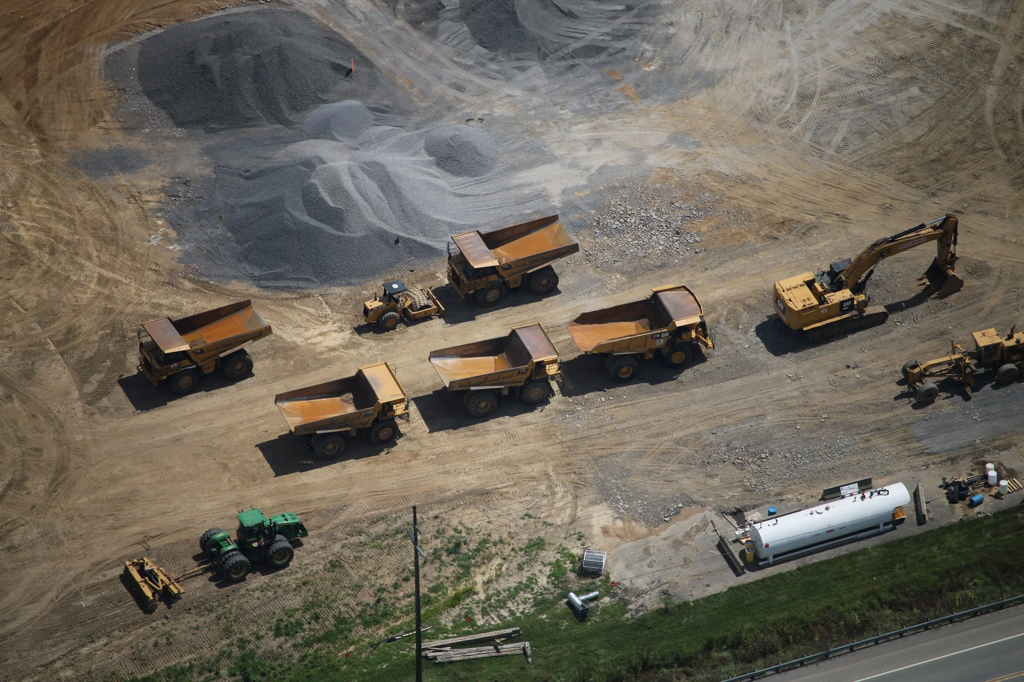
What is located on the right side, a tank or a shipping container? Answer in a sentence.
There is a tank on the right side.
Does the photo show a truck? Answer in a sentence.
Yes, a truck can be made out from above.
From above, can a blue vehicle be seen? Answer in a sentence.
No, this view has no blue vehicle in it.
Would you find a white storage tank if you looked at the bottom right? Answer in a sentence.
Yes, the scene does show a white storage tank at the bottom right.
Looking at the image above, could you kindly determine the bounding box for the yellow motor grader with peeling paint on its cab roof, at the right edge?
[902,322,1024,403]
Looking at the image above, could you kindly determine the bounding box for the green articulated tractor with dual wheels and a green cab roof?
[199,506,308,585]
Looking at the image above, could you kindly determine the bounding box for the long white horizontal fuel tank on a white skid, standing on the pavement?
[732,483,914,565]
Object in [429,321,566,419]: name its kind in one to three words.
truck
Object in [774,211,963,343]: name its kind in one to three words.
work vehicle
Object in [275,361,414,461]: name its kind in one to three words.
truck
